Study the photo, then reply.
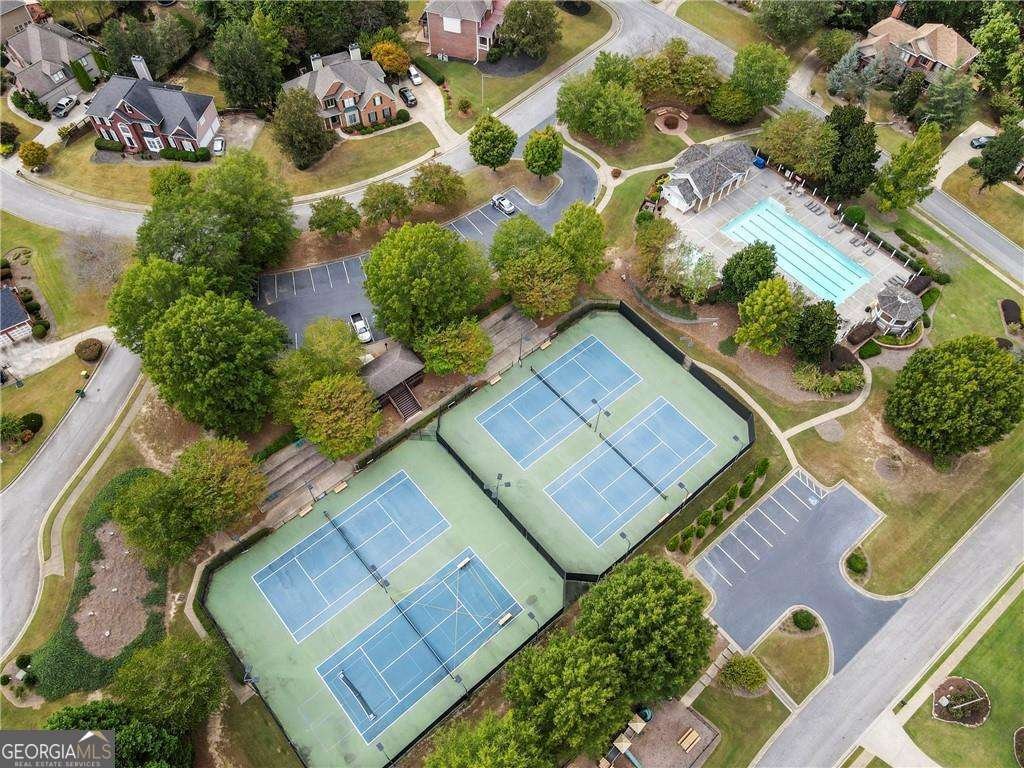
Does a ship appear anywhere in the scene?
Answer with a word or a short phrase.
No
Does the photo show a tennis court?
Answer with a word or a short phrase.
Yes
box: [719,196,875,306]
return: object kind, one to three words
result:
swimming pool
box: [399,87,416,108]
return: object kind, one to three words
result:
car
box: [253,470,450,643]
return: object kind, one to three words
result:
tennis court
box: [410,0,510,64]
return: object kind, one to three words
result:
house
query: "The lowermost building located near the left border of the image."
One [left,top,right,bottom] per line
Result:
[0,279,34,345]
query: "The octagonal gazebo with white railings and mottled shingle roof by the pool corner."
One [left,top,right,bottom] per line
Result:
[872,285,925,332]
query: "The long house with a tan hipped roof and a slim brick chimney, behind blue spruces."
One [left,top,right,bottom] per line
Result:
[852,0,975,85]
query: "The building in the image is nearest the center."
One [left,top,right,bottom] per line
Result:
[348,341,425,426]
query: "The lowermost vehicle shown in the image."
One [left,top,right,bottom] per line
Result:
[346,312,372,345]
